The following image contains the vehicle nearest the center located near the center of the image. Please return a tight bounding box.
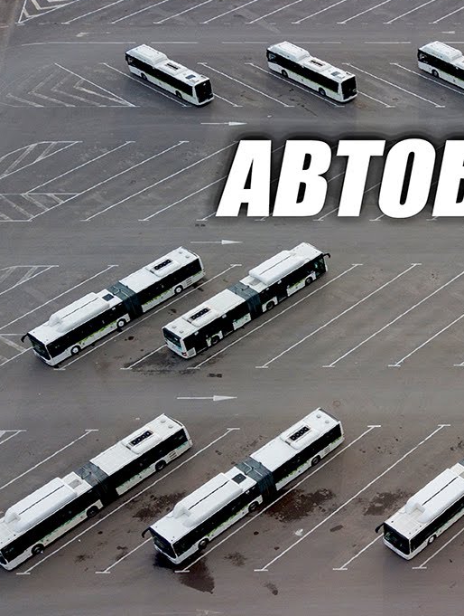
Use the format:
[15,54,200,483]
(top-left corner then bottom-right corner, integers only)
[166,243,331,359]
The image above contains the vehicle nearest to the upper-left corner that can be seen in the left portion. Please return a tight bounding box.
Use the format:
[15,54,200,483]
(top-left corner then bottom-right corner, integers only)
[129,45,213,104]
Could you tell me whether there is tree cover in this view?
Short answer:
No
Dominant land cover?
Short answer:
paved ground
